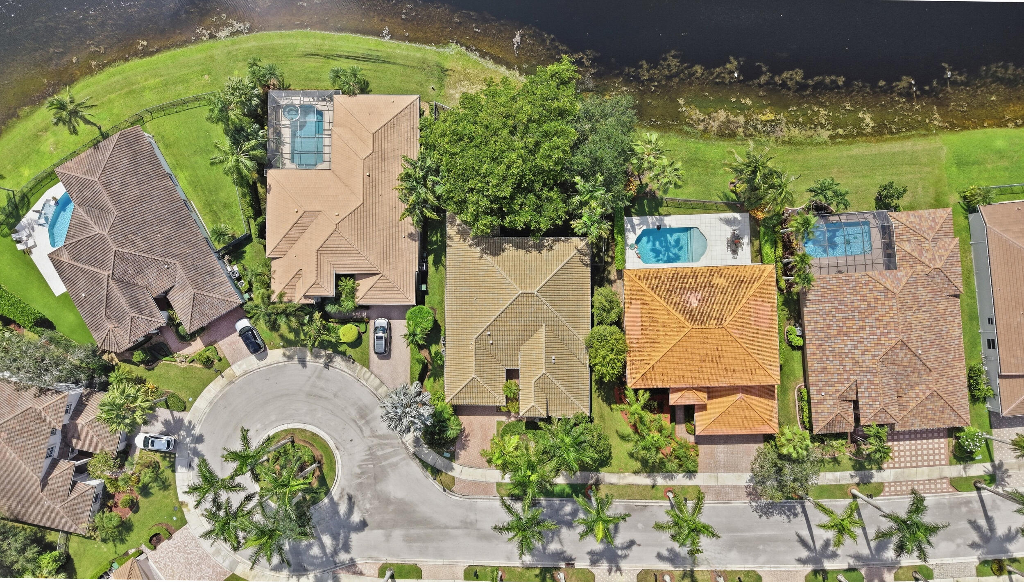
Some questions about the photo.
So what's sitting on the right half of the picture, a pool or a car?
pool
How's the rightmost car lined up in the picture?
vertically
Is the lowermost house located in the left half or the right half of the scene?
left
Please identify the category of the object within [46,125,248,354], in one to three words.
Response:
house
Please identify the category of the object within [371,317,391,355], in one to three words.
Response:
car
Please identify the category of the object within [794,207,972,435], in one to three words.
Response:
house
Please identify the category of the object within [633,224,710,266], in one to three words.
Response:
swimming pool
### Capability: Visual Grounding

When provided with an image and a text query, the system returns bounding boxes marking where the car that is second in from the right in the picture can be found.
[236,318,266,356]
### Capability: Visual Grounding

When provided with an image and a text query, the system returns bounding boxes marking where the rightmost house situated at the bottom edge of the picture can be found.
[110,552,158,582]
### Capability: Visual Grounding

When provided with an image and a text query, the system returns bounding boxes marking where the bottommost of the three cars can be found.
[136,432,175,452]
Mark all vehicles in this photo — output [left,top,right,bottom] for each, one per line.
[371,317,391,355]
[136,432,175,452]
[236,318,266,356]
